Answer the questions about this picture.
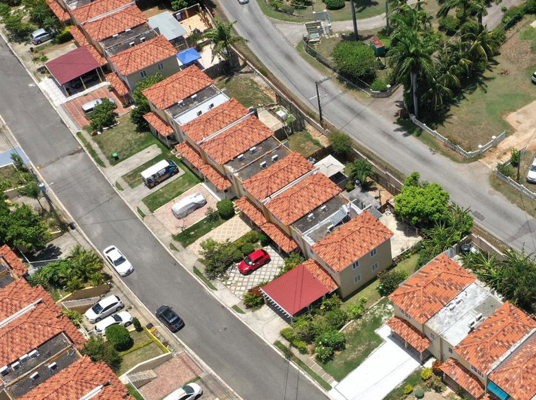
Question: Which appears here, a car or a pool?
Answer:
car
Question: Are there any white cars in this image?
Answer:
Yes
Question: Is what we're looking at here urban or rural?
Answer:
urban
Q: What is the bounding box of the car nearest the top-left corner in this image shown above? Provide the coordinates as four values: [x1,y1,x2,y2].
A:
[29,28,57,45]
